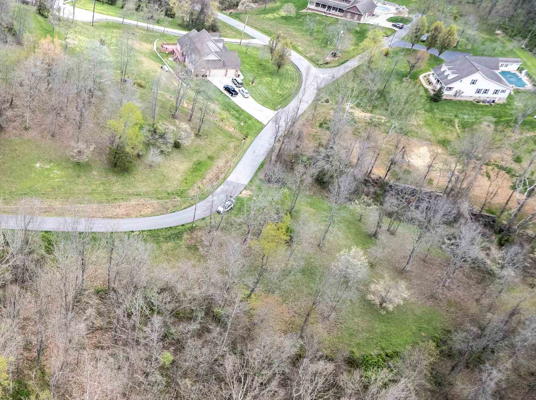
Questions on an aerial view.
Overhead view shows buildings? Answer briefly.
Yes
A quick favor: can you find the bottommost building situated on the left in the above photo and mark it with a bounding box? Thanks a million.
[161,25,243,77]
